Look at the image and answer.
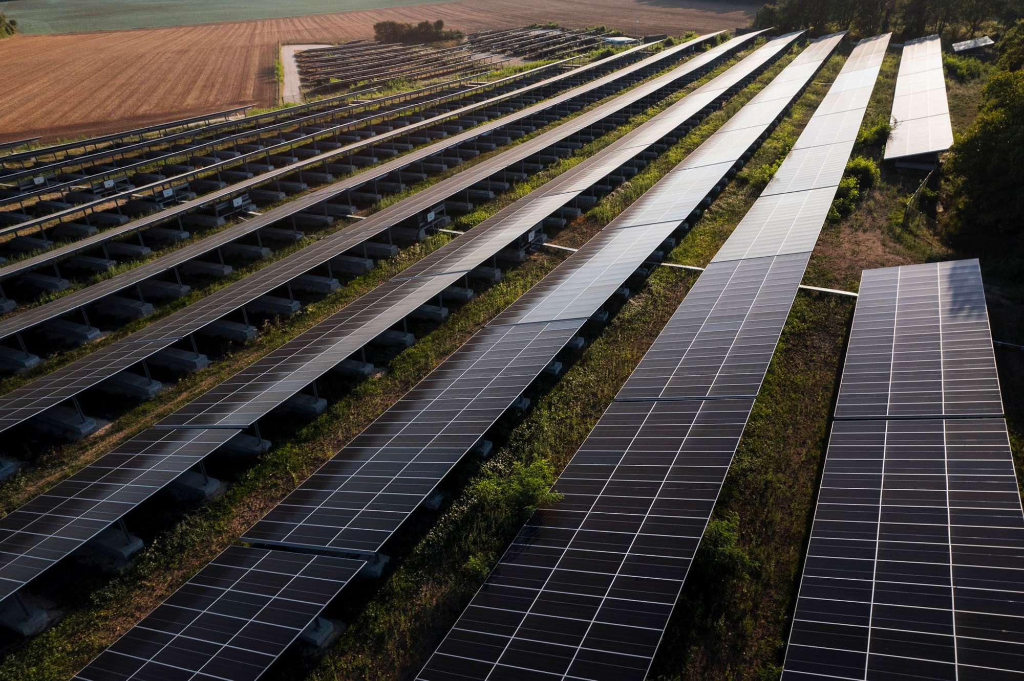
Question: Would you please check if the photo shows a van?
No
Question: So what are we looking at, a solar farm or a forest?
solar farm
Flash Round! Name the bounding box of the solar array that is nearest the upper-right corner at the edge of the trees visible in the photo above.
[956,40,996,57]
